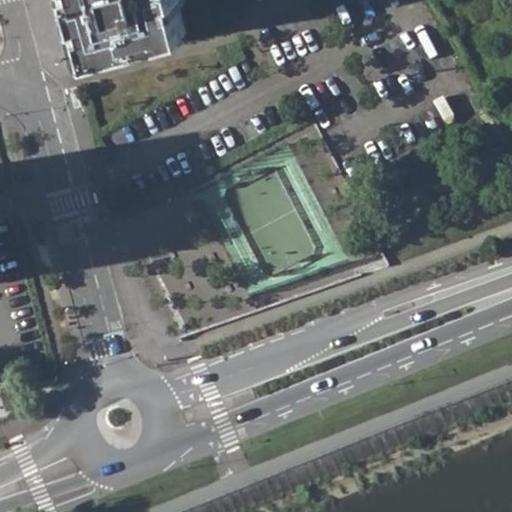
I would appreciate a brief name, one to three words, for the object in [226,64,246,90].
vehicle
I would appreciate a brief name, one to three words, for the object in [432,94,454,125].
truck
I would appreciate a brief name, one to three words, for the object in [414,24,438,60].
camper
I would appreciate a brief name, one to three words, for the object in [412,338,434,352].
car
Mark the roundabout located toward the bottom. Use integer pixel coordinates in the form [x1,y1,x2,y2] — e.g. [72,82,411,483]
[93,387,147,453]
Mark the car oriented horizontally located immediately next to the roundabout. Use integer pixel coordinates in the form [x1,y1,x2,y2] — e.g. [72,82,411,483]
[98,462,120,475]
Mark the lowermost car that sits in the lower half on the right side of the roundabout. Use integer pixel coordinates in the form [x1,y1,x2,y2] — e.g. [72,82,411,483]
[237,408,260,422]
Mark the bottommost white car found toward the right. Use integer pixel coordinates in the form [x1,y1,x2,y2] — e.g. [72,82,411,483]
[311,377,332,391]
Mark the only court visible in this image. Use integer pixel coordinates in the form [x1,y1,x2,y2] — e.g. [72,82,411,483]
[211,150,350,297]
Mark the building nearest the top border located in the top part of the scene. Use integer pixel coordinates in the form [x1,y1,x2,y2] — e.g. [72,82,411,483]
[53,0,186,78]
